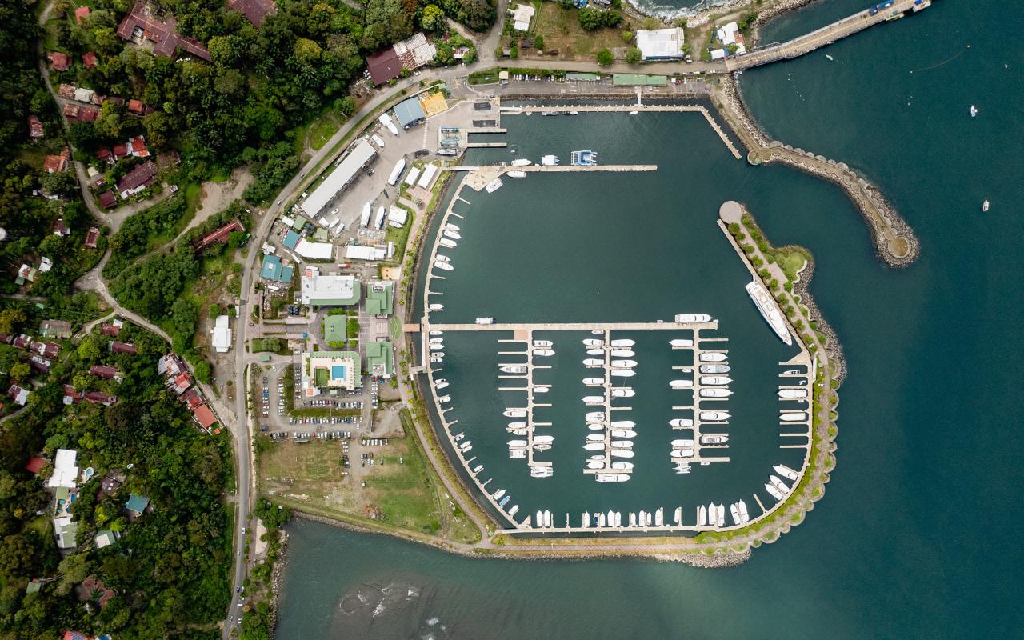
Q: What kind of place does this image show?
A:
port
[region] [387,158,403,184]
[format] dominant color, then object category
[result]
white boat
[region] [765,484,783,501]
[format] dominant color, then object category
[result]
white boat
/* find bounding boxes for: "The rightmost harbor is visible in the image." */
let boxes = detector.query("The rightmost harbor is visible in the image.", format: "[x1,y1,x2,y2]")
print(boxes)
[484,206,845,566]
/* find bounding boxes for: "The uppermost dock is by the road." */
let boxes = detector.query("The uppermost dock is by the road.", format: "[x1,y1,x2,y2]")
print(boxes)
[722,0,951,72]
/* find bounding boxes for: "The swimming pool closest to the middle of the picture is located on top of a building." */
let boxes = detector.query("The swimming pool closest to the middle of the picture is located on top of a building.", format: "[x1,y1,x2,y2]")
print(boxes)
[332,366,346,380]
